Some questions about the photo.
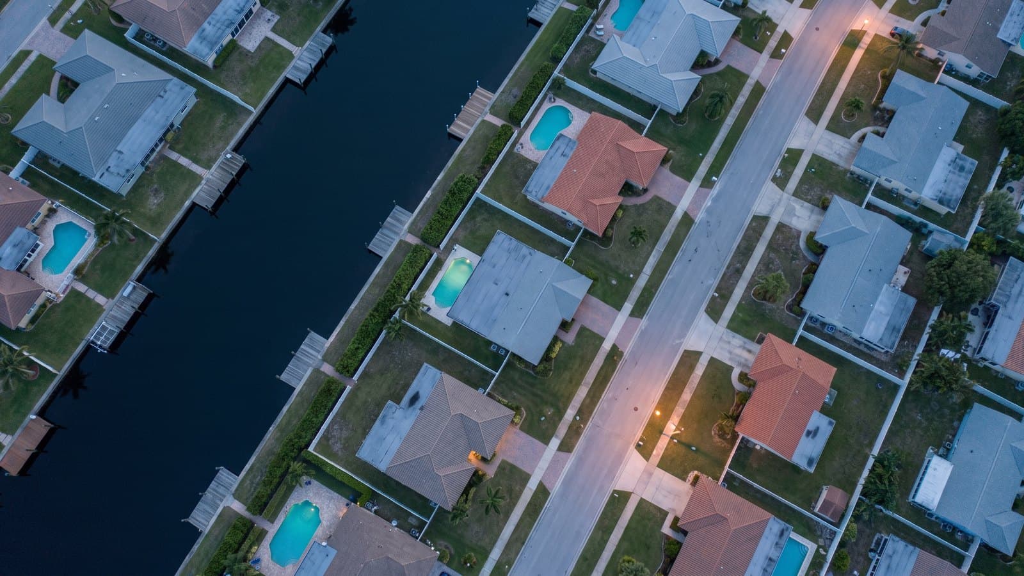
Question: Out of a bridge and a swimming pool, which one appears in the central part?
swimming pool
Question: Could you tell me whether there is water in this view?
Yes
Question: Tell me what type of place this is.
residential area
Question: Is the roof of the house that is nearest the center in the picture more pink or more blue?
blue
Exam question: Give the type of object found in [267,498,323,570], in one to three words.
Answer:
swimming pool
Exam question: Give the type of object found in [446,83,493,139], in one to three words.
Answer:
pier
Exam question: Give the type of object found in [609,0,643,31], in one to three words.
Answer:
swimming pool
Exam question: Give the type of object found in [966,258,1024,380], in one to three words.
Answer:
house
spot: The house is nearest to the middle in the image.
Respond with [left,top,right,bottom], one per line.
[447,230,594,365]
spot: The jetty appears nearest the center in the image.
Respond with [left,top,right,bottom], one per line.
[365,201,411,257]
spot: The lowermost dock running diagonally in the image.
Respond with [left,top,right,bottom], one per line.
[183,465,238,530]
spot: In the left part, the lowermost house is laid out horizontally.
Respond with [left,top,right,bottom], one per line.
[292,504,439,576]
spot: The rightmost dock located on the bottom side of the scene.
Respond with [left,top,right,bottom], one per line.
[277,328,327,388]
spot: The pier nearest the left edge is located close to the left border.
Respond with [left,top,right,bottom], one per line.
[0,415,62,476]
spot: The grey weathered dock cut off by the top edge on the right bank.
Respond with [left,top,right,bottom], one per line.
[526,0,556,23]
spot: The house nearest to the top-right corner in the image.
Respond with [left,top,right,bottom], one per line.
[913,0,1024,84]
